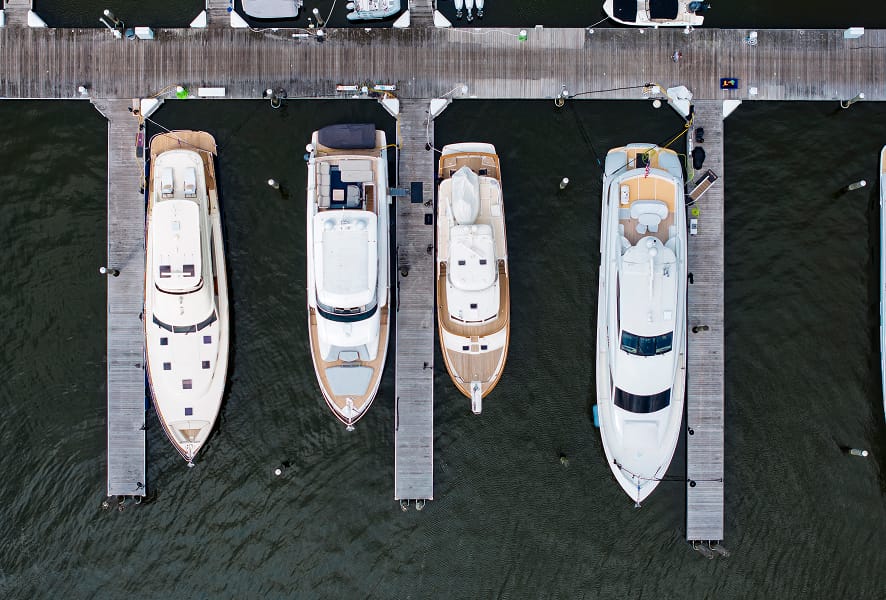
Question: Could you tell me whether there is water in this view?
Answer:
Yes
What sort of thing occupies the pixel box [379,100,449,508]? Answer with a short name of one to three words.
pier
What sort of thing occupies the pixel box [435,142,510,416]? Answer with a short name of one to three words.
boat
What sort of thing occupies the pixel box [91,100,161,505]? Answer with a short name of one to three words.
pier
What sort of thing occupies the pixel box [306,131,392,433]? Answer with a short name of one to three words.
boat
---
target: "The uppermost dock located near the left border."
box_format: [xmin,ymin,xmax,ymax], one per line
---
[4,0,33,27]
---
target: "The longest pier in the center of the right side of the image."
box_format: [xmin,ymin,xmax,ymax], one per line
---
[667,100,742,550]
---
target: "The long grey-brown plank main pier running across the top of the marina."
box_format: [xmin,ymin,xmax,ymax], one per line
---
[0,19,886,108]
